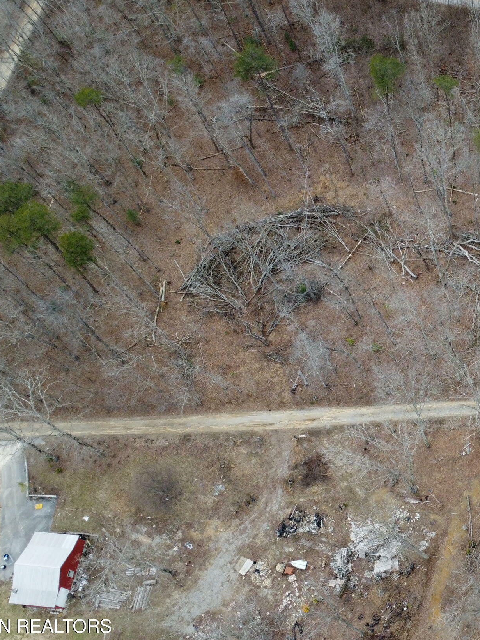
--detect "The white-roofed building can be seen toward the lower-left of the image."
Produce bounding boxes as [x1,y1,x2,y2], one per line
[8,533,85,610]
